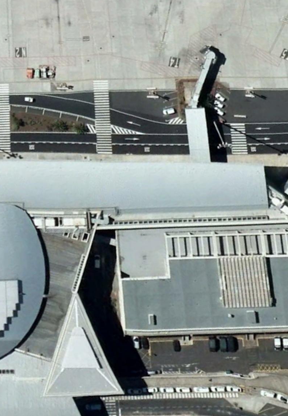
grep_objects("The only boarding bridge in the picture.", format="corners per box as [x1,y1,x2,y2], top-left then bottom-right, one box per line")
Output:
[189,40,218,107]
